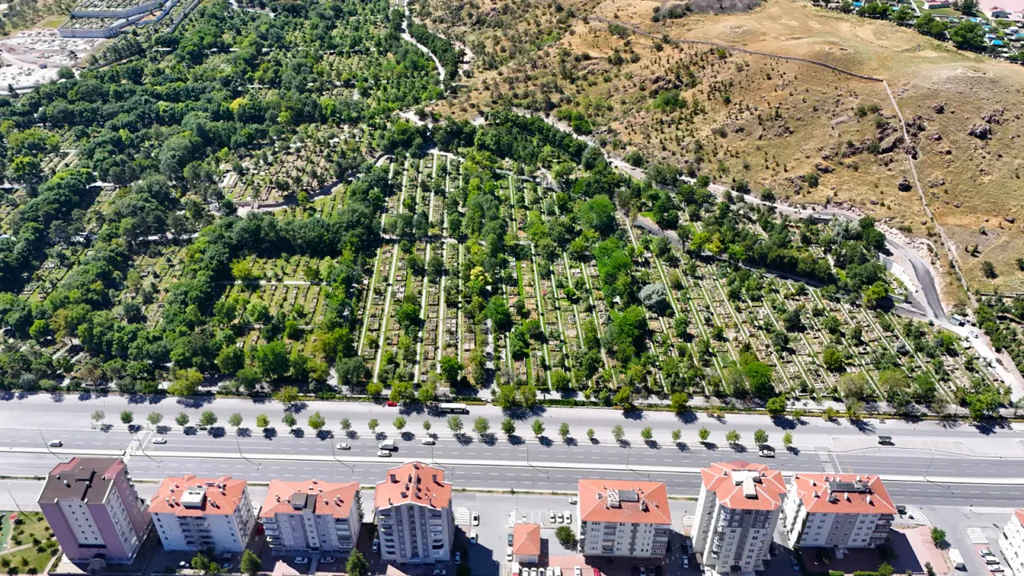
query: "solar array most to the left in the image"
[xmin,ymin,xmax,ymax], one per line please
[618,488,643,502]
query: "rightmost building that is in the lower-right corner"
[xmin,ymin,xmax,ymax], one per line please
[994,508,1024,575]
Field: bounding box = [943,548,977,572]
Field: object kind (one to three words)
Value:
truck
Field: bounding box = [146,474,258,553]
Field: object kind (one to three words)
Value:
building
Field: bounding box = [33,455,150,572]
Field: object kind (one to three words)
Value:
building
